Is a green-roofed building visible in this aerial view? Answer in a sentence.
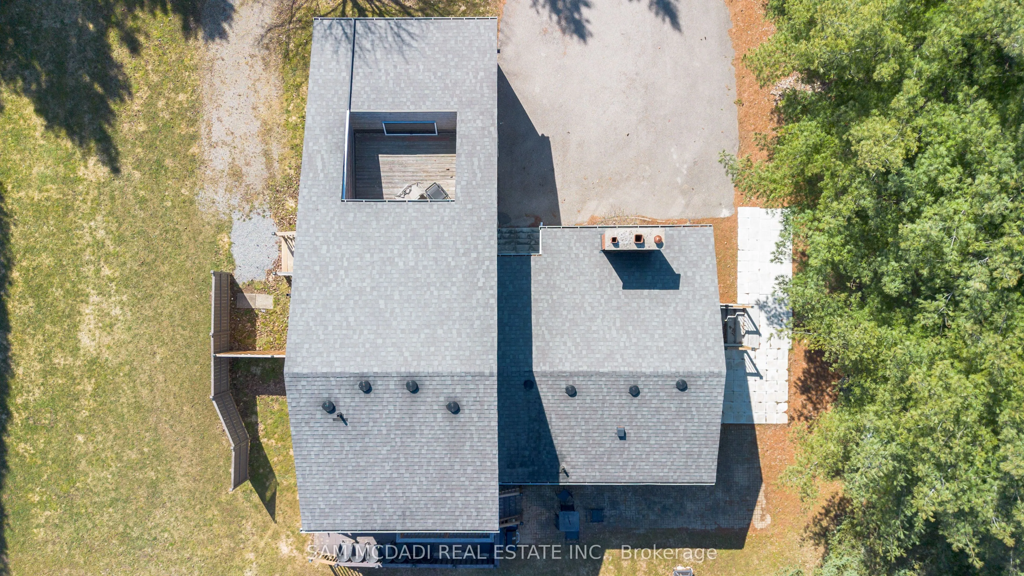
No, this view has no green-roofed building in it.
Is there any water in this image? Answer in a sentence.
No, the picture contains no water.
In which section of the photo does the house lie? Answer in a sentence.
The house is in the center part of the image.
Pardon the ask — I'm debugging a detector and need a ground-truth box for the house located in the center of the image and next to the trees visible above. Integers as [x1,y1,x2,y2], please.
[284,16,726,534]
